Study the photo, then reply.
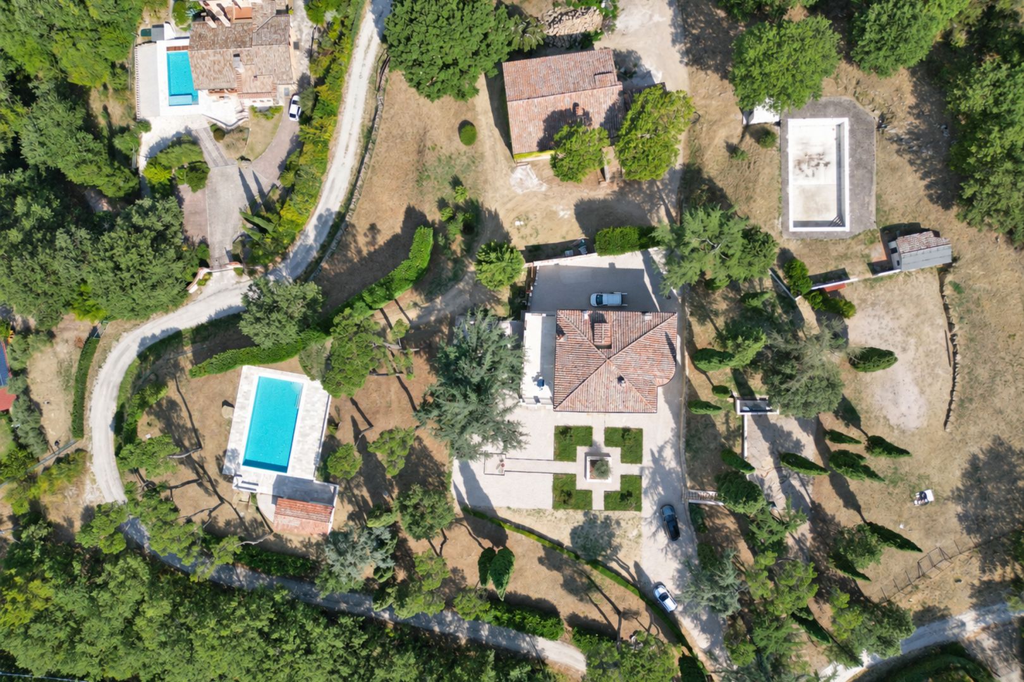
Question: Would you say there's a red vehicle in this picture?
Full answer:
No, there isn't any red vehicle down there.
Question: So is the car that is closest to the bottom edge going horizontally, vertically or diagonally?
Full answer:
In this picture, the car that is closest to the bottom edge is oriented diagonally.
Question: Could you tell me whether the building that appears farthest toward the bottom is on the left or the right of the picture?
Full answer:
The building that appears farthest toward the bottom appears in the left half of the scene.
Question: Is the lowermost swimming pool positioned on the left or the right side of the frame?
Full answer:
The lowermost swimming pool sits on the left side.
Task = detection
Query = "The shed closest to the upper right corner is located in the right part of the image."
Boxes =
[886,231,952,270]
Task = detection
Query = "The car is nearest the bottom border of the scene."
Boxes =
[653,583,679,614]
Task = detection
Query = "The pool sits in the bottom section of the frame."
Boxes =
[223,365,332,481]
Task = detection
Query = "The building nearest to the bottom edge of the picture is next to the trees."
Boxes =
[233,476,342,535]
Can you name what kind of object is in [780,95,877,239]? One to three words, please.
swimming pool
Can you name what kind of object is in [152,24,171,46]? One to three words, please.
shed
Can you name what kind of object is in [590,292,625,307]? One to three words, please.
vehicle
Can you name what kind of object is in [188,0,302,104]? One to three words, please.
house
